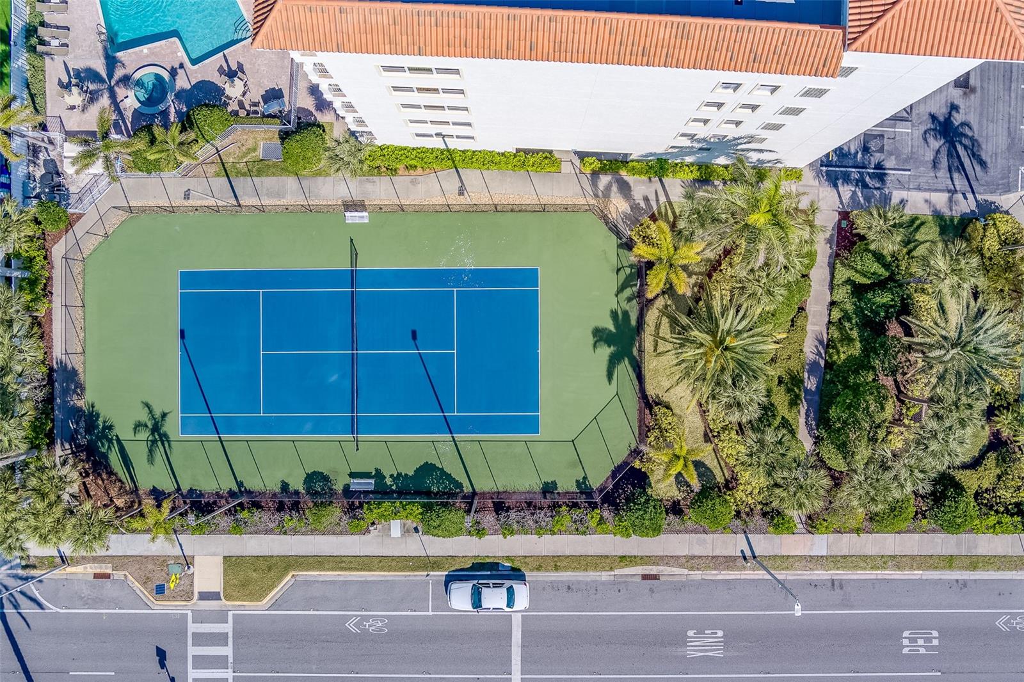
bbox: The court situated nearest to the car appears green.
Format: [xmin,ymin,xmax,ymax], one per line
[85,212,637,491]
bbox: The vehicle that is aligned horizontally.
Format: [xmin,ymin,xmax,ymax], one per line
[447,577,530,614]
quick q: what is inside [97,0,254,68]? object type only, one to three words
swimming pool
